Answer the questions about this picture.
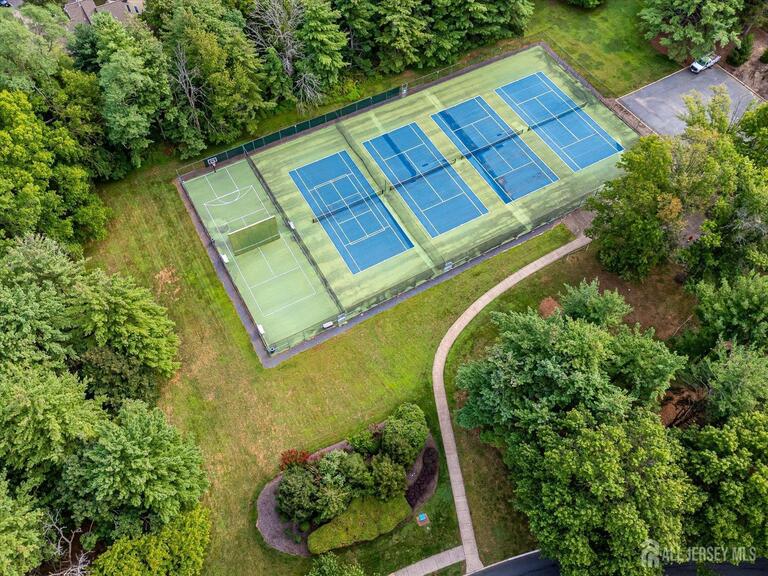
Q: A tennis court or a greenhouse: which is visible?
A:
tennis court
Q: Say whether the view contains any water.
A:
No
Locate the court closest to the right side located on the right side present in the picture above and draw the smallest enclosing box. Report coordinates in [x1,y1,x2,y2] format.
[495,71,624,172]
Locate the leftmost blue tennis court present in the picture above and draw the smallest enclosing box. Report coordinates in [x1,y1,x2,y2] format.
[288,149,415,275]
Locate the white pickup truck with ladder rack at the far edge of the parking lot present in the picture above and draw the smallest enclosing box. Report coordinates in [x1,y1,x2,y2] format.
[685,53,720,76]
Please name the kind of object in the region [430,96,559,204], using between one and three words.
tennis court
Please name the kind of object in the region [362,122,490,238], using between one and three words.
tennis court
